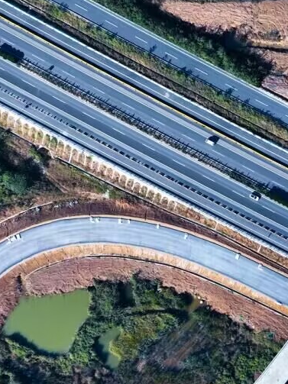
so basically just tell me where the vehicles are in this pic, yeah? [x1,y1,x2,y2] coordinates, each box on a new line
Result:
[250,192,260,200]
[205,138,215,146]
